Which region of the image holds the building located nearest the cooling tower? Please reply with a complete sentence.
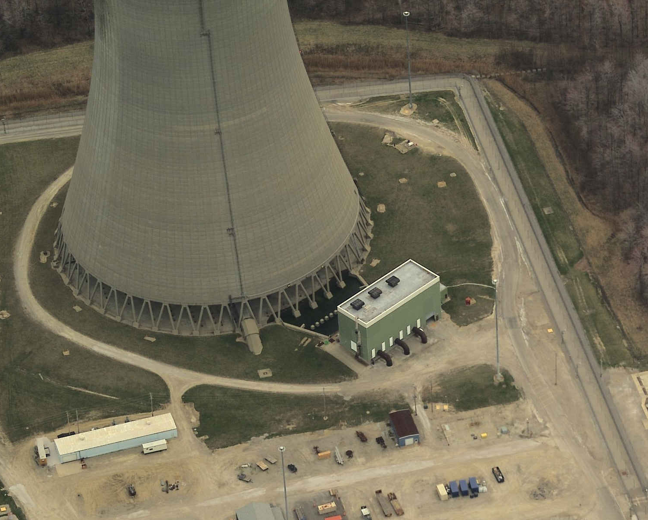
The building located nearest the cooling tower is in the center part of the image.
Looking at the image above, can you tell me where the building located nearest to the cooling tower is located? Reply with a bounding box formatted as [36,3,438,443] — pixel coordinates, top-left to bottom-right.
[336,259,446,365]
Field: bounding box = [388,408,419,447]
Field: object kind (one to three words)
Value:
building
